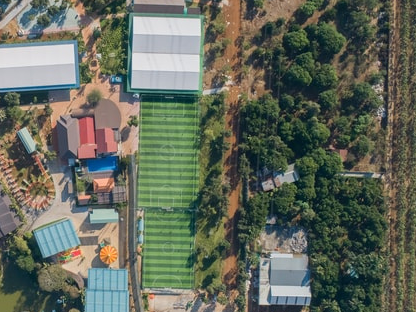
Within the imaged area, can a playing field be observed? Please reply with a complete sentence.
Yes, there is a playing field in the image.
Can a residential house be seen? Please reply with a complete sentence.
Yes, I can see a residential house in this picture.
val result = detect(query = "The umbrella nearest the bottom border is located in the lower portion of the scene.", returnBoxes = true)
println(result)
[100,246,119,265]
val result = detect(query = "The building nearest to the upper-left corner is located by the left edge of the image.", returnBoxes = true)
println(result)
[0,41,79,93]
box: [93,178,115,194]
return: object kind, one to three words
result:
house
